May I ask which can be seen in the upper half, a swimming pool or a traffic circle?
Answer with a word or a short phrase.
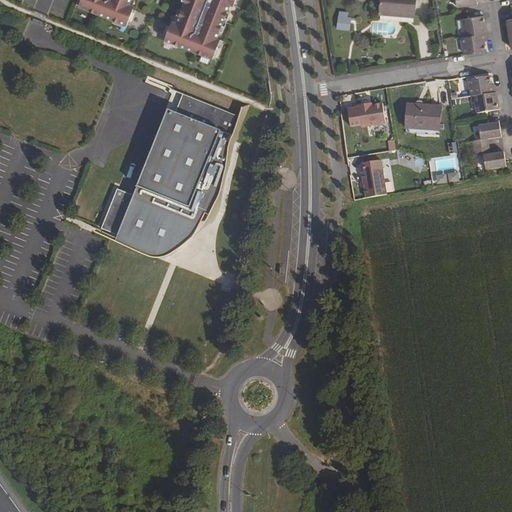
swimming pool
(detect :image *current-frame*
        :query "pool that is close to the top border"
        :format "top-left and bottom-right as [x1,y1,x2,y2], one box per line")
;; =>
[372,22,396,34]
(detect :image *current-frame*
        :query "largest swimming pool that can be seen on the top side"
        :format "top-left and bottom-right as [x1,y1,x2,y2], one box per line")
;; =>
[430,152,460,184]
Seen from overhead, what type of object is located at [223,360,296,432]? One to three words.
roundabout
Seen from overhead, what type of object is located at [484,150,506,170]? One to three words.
house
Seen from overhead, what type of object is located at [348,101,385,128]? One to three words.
house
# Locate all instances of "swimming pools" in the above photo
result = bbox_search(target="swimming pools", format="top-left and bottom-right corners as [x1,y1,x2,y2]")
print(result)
[430,152,460,184]
[372,22,396,34]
